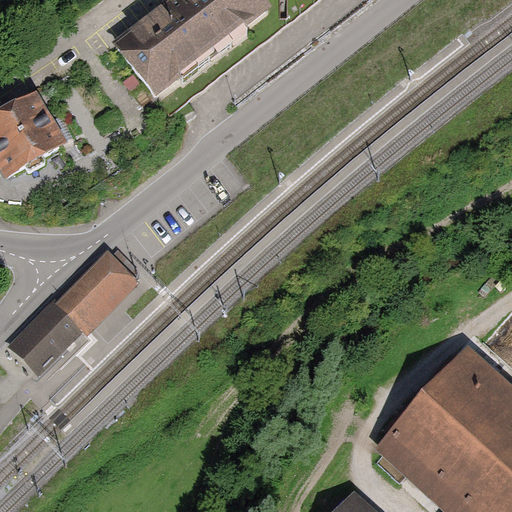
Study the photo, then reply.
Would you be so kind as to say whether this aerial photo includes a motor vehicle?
Yes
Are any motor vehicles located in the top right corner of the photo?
No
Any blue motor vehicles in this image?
Yes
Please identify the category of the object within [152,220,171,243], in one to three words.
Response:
car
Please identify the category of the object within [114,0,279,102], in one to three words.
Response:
house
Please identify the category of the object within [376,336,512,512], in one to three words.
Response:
barn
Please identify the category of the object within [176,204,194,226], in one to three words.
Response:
car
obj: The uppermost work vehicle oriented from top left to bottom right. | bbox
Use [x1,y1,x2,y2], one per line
[204,176,231,202]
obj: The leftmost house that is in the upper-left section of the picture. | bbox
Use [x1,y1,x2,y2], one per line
[0,90,68,180]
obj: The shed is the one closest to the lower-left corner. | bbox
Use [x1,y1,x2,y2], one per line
[8,303,92,381]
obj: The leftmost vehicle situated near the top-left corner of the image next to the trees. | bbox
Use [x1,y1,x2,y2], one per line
[56,48,78,66]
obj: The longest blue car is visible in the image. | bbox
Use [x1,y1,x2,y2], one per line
[163,210,181,233]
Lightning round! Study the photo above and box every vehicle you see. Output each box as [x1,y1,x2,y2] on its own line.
[152,220,171,243]
[163,210,181,233]
[56,48,78,66]
[204,176,231,202]
[176,204,194,226]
